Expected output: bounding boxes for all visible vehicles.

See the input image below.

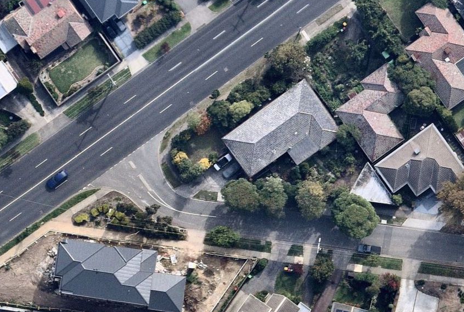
[358,245,382,254]
[103,21,119,38]
[213,152,235,171]
[47,170,68,189]
[221,160,242,179]
[113,14,130,36]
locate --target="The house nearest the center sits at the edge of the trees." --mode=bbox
[222,76,339,177]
